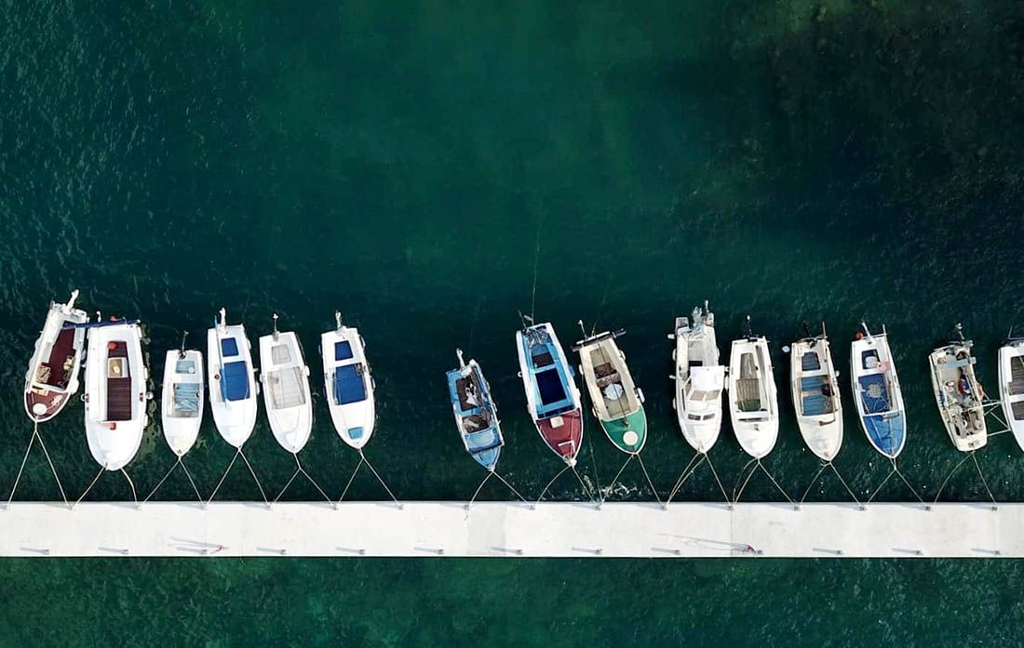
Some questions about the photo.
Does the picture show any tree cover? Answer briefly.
No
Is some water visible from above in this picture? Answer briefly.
Yes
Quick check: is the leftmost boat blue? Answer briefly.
No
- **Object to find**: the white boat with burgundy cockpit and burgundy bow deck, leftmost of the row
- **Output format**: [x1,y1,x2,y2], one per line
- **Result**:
[23,290,87,424]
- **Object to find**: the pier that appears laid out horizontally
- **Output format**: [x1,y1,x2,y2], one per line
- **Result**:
[0,502,1024,558]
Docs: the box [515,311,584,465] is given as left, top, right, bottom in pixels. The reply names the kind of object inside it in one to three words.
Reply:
boat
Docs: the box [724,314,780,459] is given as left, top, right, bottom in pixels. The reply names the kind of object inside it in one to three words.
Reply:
boat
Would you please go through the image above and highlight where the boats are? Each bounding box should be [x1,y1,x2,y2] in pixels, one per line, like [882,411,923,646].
[317,309,377,450]
[928,325,988,453]
[515,311,584,465]
[160,330,205,458]
[258,314,313,455]
[997,326,1024,458]
[790,326,844,463]
[206,306,261,449]
[61,310,154,473]
[572,319,648,454]
[667,304,727,452]
[446,346,505,472]
[850,321,908,461]
[23,290,87,424]
[724,314,780,459]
